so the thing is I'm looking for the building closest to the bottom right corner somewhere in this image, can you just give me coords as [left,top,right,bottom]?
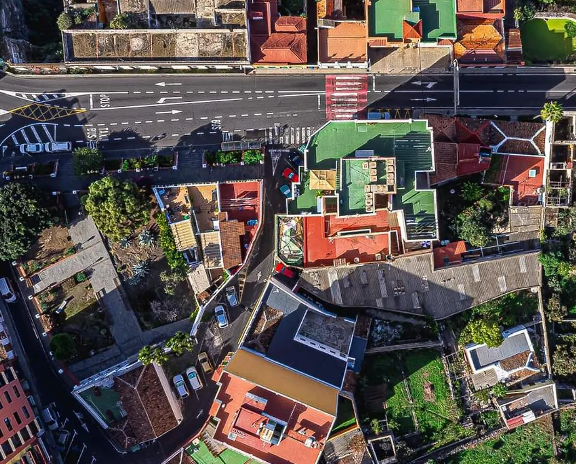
[497,376,560,429]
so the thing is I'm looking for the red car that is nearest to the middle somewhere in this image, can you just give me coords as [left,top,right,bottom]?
[274,262,297,279]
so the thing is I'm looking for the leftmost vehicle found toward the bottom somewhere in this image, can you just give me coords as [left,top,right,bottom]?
[0,276,18,304]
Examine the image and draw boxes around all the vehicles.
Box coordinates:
[198,351,215,375]
[368,109,390,119]
[280,163,299,184]
[277,180,294,198]
[20,142,43,153]
[187,364,203,390]
[225,284,238,307]
[216,304,229,328]
[287,147,305,167]
[45,141,72,152]
[175,373,189,395]
[0,276,18,304]
[274,262,297,279]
